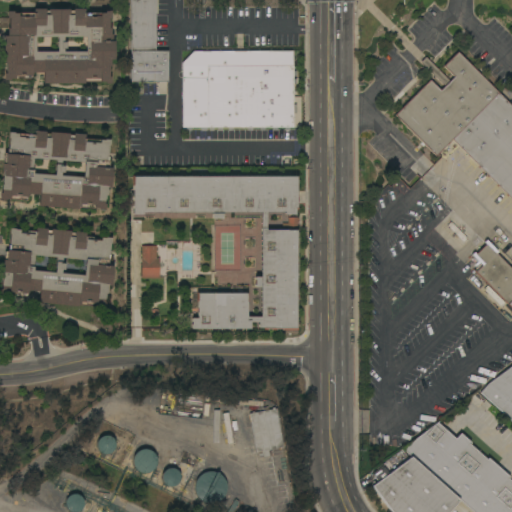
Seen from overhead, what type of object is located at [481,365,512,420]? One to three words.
building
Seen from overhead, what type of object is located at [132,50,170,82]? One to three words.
building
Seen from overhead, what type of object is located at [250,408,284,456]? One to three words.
shed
